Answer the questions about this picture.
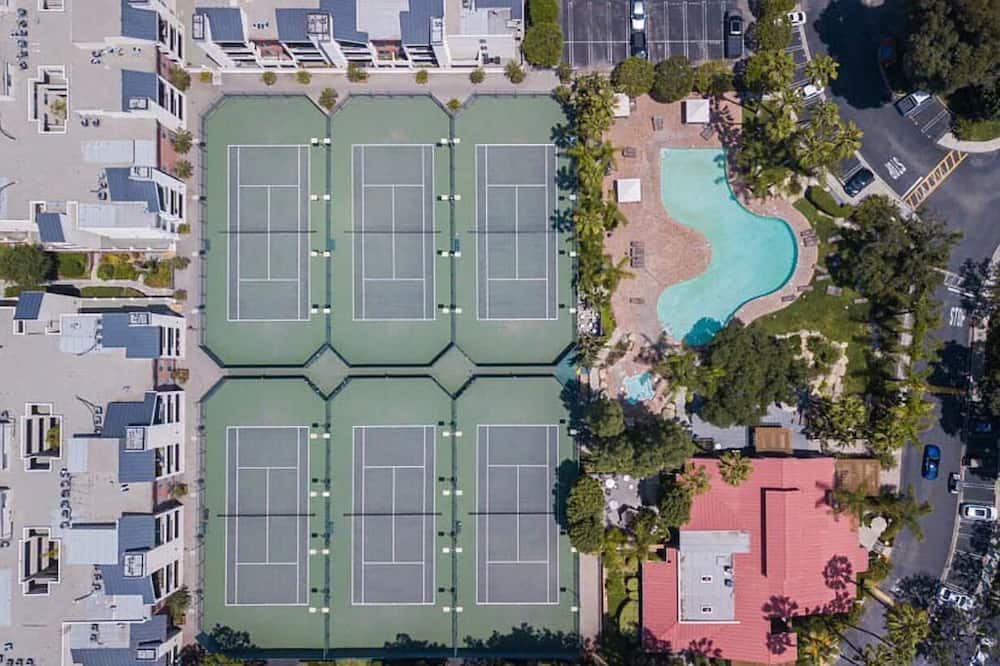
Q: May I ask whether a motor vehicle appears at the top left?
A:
No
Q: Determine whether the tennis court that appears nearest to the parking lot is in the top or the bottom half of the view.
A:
top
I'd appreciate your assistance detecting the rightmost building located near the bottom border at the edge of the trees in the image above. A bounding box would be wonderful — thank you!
[643,457,868,662]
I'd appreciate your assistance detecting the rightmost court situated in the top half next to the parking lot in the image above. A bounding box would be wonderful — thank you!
[456,96,577,365]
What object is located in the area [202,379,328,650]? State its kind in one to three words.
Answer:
tennis court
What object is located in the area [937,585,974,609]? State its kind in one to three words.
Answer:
car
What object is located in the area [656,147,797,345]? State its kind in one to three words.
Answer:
swimming pool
